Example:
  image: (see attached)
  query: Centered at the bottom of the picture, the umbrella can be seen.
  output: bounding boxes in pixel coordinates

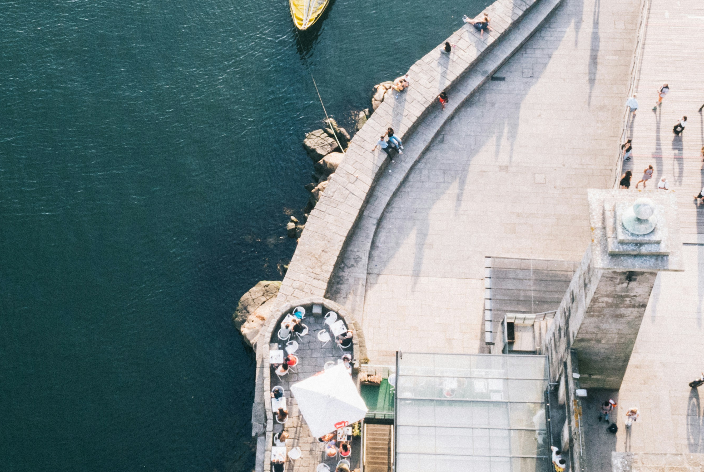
[290,363,369,440]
